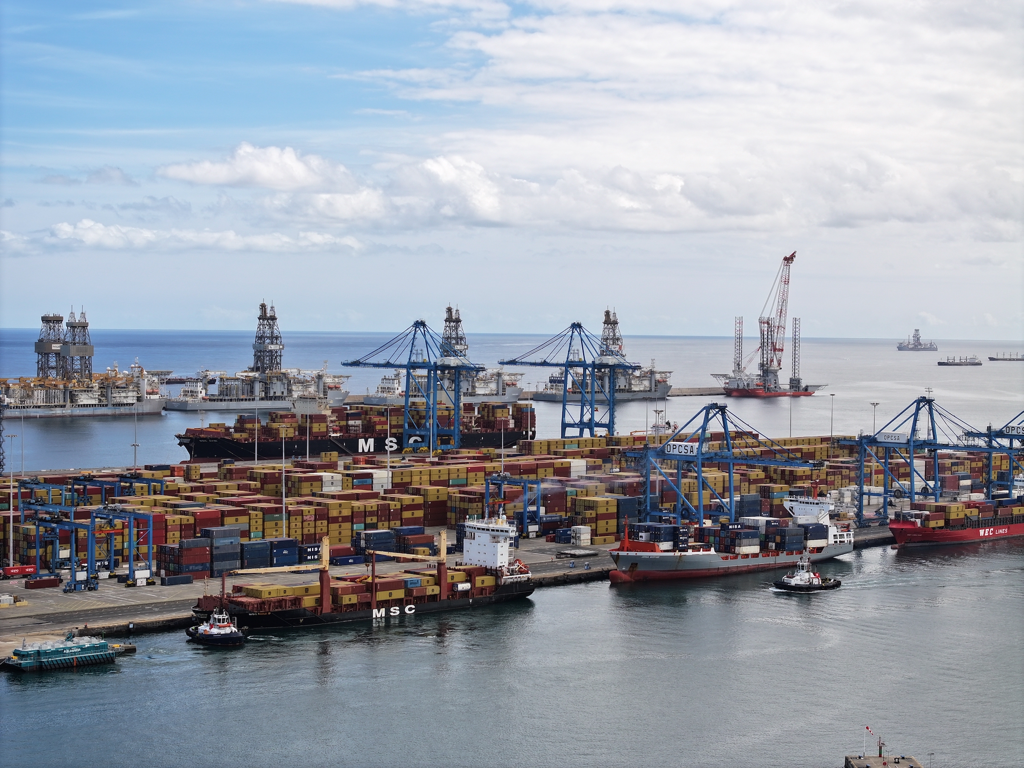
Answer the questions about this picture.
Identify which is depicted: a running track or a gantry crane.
gantry crane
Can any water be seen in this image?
Yes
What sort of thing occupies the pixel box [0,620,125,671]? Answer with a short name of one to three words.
ship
